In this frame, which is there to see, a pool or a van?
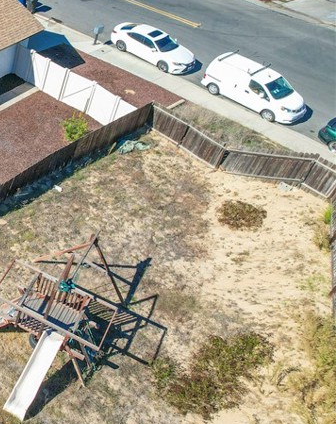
van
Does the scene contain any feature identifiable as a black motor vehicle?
No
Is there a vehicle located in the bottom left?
No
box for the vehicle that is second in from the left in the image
[199,52,307,126]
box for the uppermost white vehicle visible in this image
[109,24,197,76]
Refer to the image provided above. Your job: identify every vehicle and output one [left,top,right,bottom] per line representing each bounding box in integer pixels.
[199,52,307,126]
[109,24,197,76]
[308,115,336,155]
